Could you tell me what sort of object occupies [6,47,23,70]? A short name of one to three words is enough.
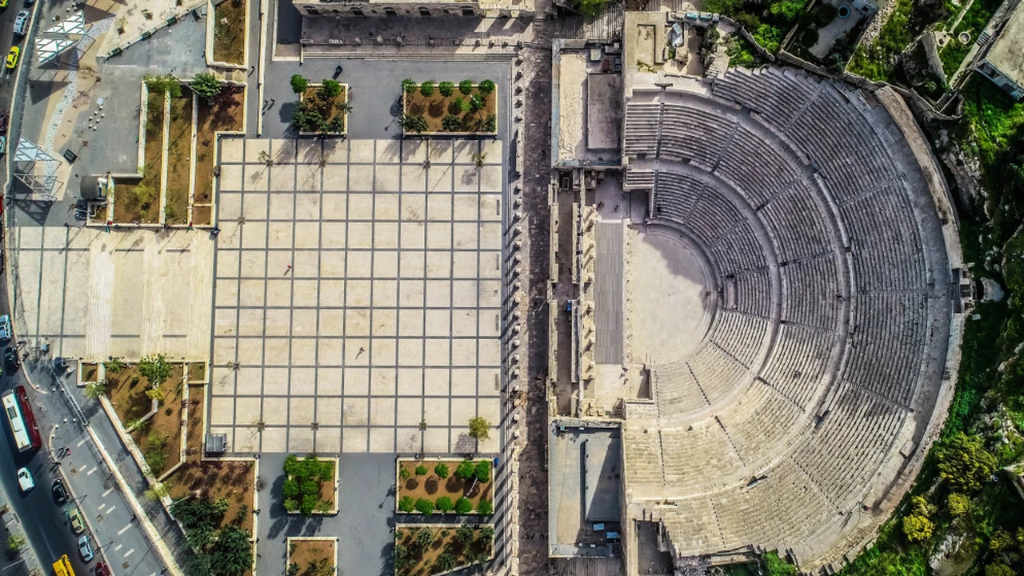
car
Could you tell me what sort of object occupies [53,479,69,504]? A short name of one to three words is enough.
car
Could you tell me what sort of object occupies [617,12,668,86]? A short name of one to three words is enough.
building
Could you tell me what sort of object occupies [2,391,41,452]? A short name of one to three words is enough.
bus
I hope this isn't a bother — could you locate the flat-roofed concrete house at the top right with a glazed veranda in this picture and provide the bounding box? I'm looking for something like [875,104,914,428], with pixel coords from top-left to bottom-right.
[962,1,1024,107]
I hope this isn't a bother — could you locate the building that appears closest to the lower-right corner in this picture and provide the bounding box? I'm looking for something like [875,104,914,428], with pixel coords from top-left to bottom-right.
[547,417,621,556]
